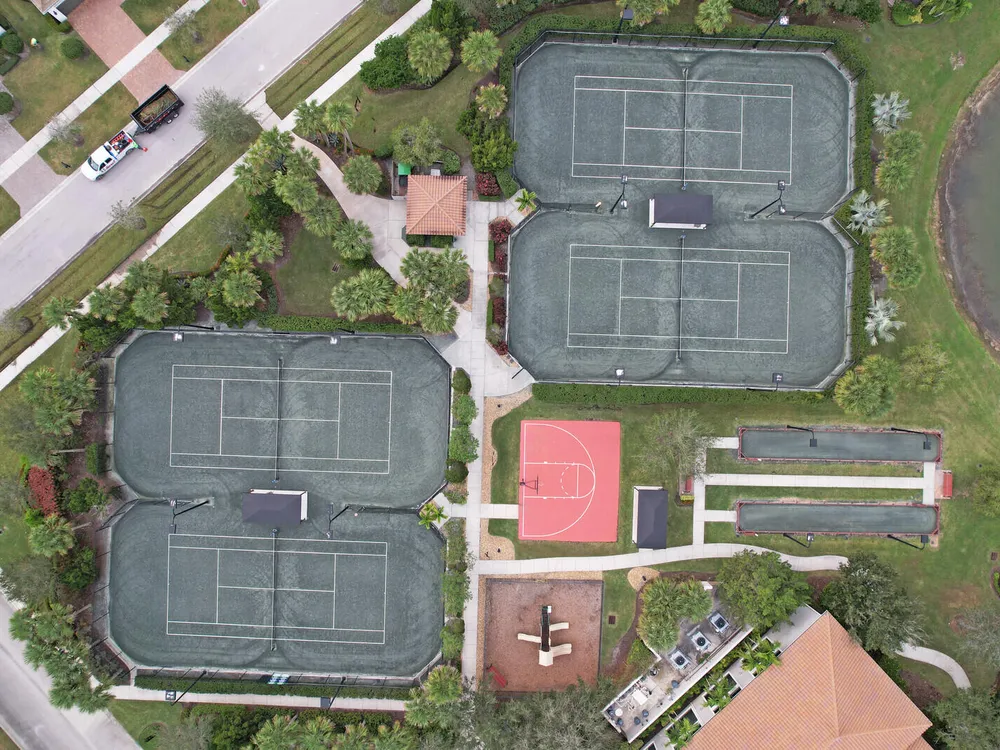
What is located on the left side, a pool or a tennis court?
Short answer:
tennis court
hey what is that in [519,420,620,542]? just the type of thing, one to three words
basketball court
